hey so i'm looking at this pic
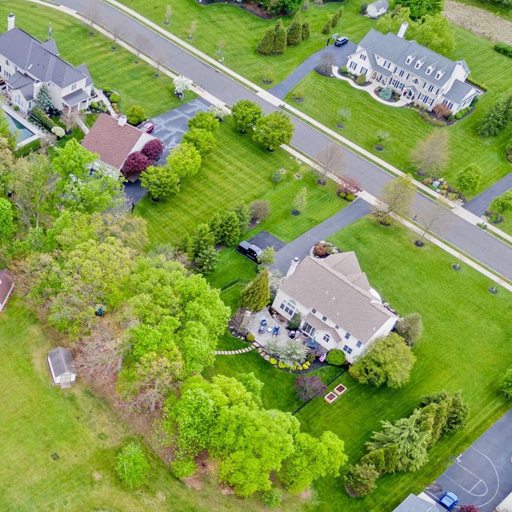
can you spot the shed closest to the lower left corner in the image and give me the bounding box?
[45,346,76,389]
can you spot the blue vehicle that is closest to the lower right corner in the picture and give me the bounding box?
[437,487,464,509]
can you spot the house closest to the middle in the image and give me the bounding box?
[272,251,403,363]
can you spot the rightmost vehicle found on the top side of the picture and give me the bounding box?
[334,33,351,47]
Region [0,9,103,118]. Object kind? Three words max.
house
